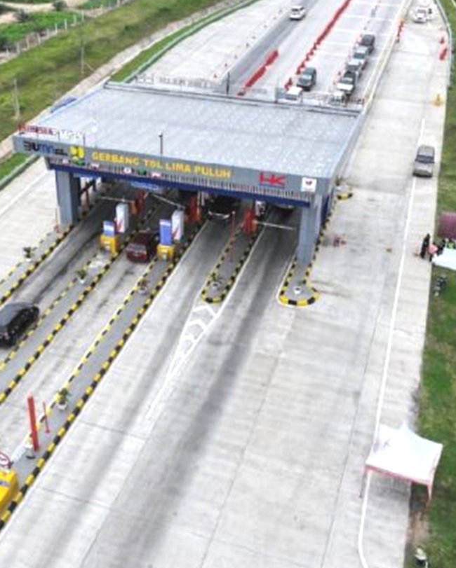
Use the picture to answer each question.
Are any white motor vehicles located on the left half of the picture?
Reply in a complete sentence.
No, there's no white motor vehicle to be seen on the left half of the picture.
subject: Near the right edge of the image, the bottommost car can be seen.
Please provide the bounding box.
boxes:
[413,140,440,174]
